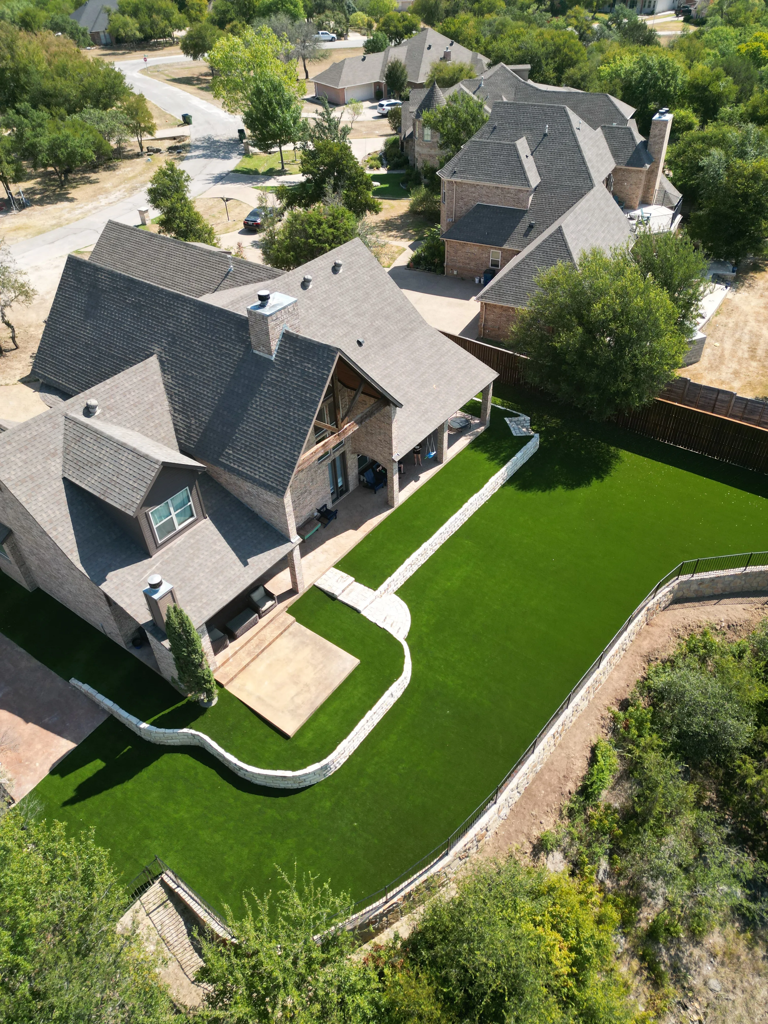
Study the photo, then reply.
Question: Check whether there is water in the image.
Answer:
No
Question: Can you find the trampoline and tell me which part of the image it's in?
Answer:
center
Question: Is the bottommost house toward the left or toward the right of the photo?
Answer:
left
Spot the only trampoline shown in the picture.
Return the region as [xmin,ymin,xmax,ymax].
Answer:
[449,408,472,433]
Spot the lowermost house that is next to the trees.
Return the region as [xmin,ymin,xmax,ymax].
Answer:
[0,218,502,701]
